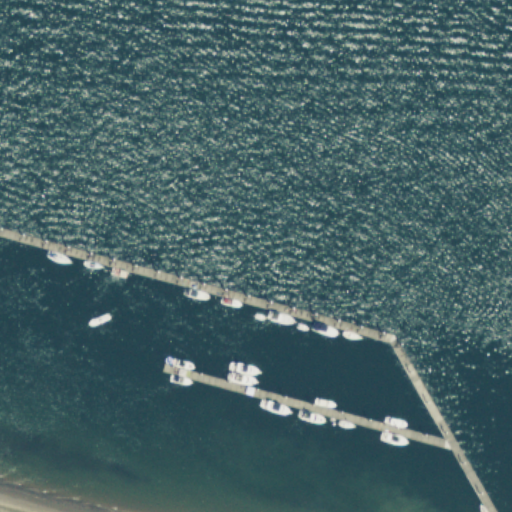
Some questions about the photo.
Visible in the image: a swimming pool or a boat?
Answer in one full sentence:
Visible in the photo is a boat.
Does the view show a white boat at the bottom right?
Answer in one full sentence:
Yes, I can see a white boat at the bottom right.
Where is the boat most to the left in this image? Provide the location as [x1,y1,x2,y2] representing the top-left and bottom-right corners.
[45,252,74,264]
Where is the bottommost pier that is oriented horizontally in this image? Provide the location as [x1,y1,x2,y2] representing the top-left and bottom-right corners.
[163,364,446,448]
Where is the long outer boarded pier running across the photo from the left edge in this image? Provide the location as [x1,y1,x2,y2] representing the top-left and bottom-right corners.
[0,229,390,342]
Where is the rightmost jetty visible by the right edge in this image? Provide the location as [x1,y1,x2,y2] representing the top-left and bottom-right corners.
[393,346,498,512]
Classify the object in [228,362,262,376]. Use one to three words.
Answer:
boat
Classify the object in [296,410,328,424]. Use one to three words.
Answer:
boat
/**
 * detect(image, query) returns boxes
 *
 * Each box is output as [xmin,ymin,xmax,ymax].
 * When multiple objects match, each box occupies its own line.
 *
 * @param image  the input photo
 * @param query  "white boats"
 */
[296,410,328,424]
[219,293,244,308]
[254,312,268,321]
[226,372,258,388]
[168,372,194,384]
[88,313,114,326]
[378,428,410,446]
[296,322,308,332]
[182,286,212,302]
[383,415,408,432]
[341,330,364,340]
[266,308,298,325]
[164,356,196,373]
[310,319,340,336]
[313,397,338,412]
[256,397,294,414]
[82,258,106,270]
[338,416,358,429]
[45,252,74,264]
[228,362,262,376]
